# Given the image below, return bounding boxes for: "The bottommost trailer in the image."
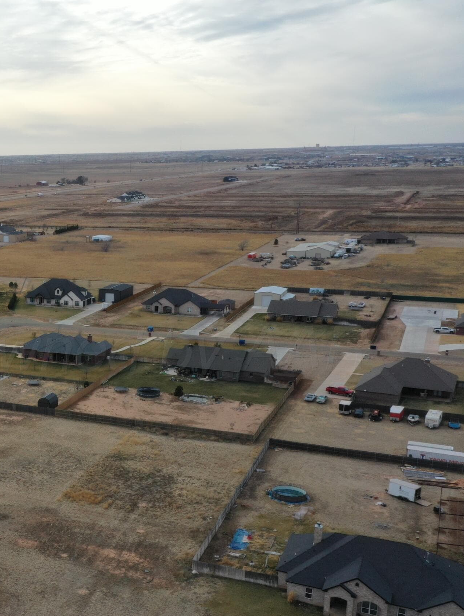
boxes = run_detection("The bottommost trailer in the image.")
[381,472,434,503]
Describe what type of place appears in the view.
residential area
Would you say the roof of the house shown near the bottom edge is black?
Yes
